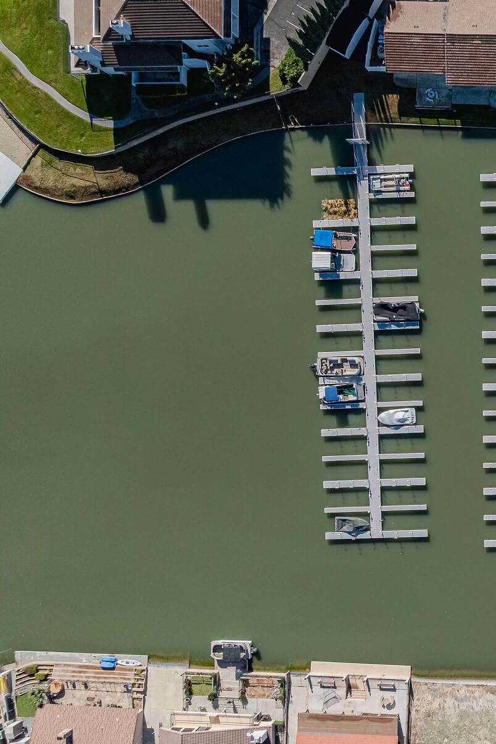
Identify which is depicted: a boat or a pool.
boat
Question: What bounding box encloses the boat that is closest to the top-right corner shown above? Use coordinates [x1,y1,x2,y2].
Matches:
[364,175,415,193]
